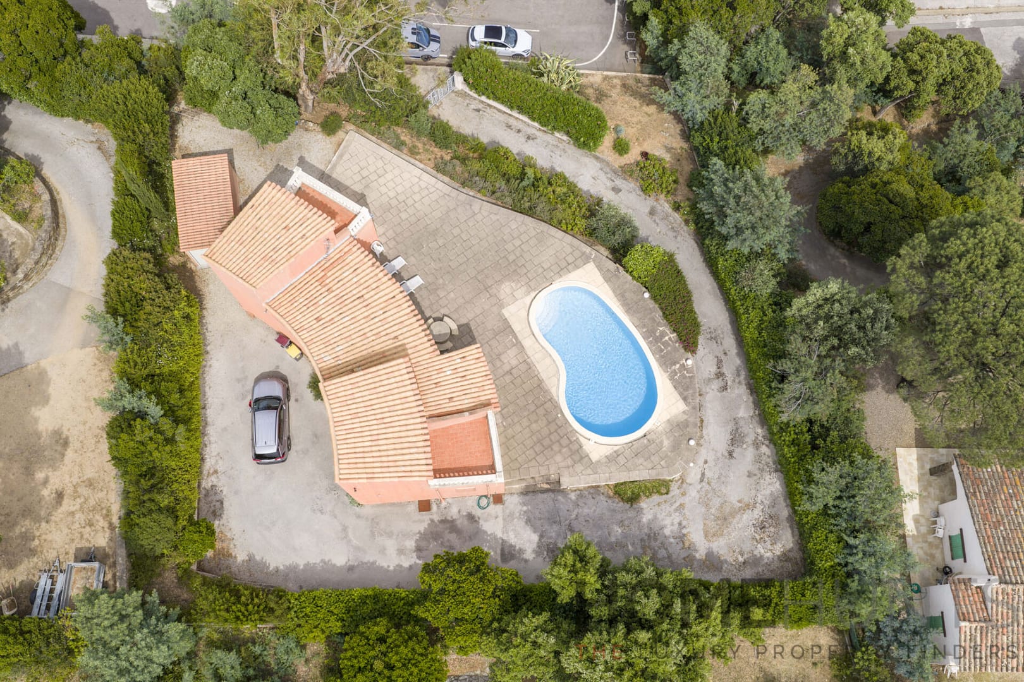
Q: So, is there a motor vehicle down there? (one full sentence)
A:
Yes, the photo shows a motor vehicle.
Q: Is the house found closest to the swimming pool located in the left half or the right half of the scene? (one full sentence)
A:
The house found closest to the swimming pool appears in the left half of the scene.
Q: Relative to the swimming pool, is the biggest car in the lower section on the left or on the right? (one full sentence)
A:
The biggest car in the lower section is to the left of the swimming pool.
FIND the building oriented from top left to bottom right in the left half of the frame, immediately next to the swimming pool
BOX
[201,167,504,504]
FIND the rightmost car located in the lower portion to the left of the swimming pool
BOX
[242,373,295,470]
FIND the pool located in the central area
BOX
[529,280,665,444]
